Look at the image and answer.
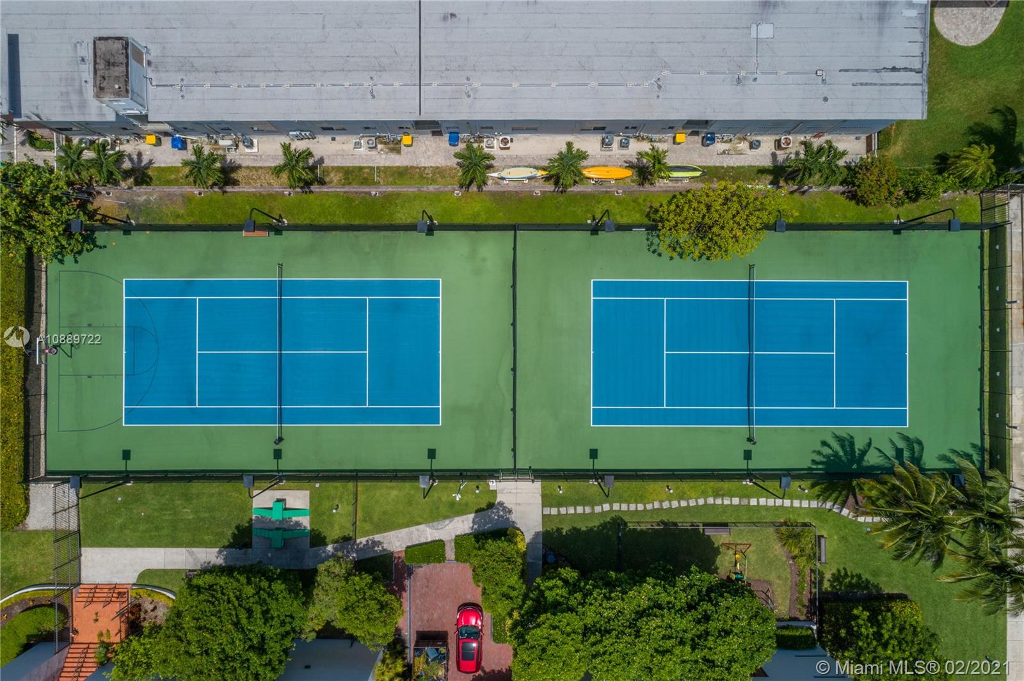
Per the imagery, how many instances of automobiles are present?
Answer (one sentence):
Only 1 automobile is visible.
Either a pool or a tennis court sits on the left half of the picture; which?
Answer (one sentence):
There is a tennis court on the left half of the picture.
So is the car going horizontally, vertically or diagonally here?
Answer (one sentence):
The car runs vertically in the image.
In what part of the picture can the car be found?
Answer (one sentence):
The car appears toward the bottom of the photo.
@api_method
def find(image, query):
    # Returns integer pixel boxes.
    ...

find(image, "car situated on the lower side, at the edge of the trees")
[453,603,485,672]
